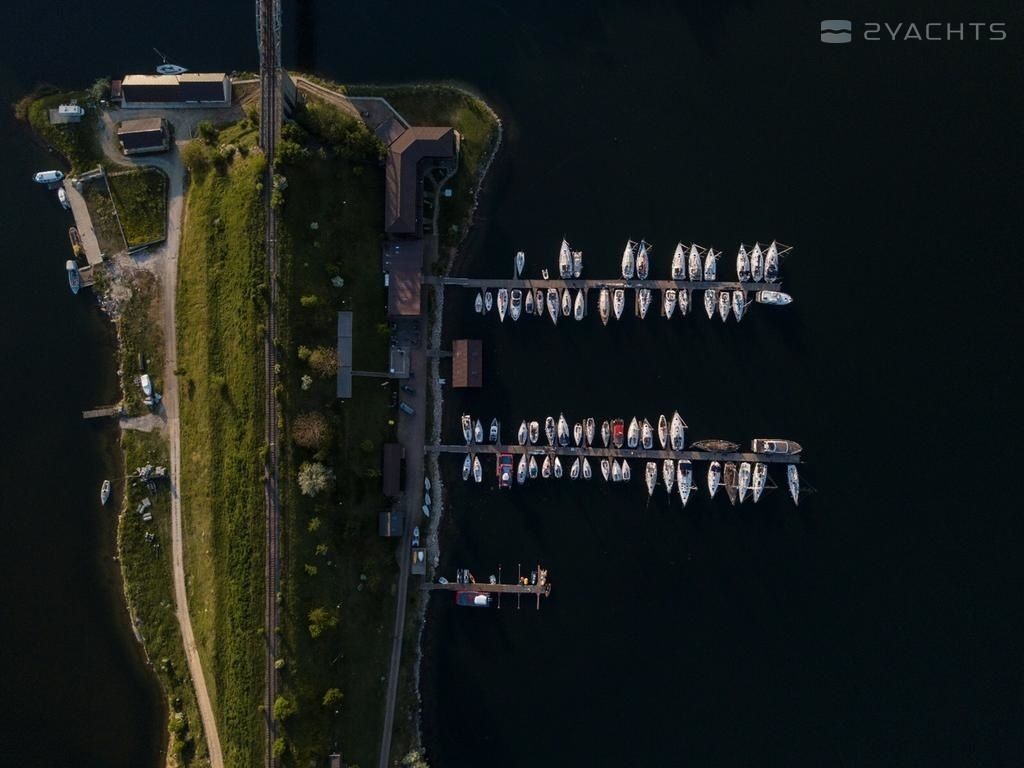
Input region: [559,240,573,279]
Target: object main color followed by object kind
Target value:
white boat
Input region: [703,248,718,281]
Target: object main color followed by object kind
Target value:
white boat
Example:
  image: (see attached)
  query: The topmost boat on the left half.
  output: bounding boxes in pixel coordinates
[157,54,191,74]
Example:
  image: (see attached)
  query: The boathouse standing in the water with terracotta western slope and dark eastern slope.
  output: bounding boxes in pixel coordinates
[452,339,483,387]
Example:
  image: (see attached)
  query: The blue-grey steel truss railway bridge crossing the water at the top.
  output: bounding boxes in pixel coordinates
[256,0,301,114]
